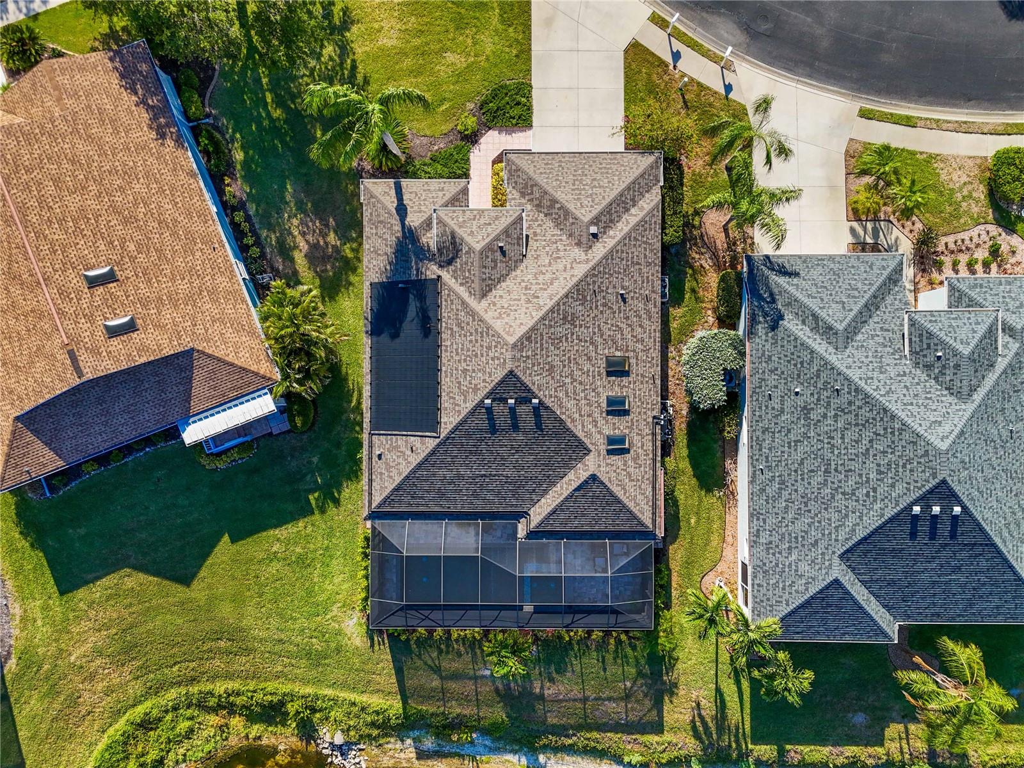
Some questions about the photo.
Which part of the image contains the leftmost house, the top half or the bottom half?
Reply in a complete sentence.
Seen from above, the leftmost house lies in the top half of the view.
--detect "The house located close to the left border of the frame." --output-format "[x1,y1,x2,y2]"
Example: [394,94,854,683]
[0,43,281,491]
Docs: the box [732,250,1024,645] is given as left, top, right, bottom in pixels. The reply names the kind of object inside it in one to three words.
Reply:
house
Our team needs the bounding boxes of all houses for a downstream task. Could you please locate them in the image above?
[0,43,281,491]
[732,250,1024,645]
[360,150,665,538]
